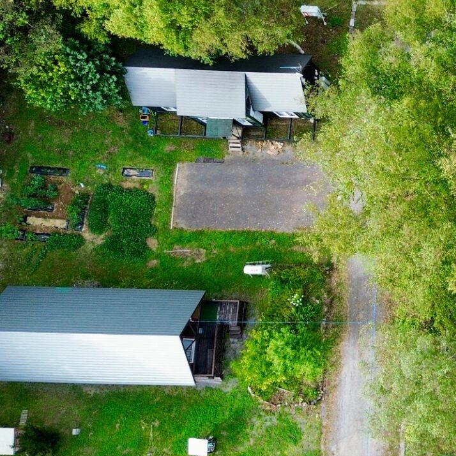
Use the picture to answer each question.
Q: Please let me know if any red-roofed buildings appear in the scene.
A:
No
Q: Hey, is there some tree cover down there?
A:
Yes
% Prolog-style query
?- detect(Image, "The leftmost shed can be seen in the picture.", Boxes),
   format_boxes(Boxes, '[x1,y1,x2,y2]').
[0,426,32,455]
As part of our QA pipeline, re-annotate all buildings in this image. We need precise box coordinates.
[0,426,32,455]
[124,48,320,154]
[0,286,230,391]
